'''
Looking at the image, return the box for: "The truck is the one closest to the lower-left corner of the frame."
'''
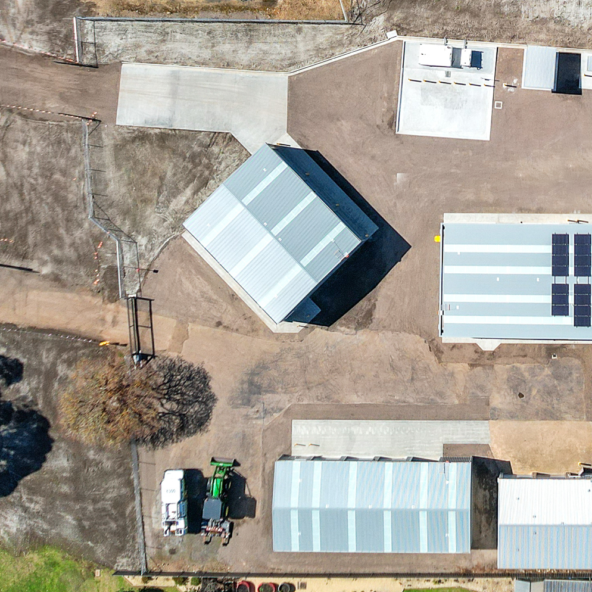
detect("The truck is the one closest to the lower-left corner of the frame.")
[160,472,192,540]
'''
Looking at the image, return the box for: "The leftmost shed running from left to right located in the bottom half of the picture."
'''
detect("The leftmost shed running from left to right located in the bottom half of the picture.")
[270,455,474,555]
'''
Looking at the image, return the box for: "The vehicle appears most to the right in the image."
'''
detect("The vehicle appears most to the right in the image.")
[200,457,232,543]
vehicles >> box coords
[200,457,232,543]
[160,472,192,540]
